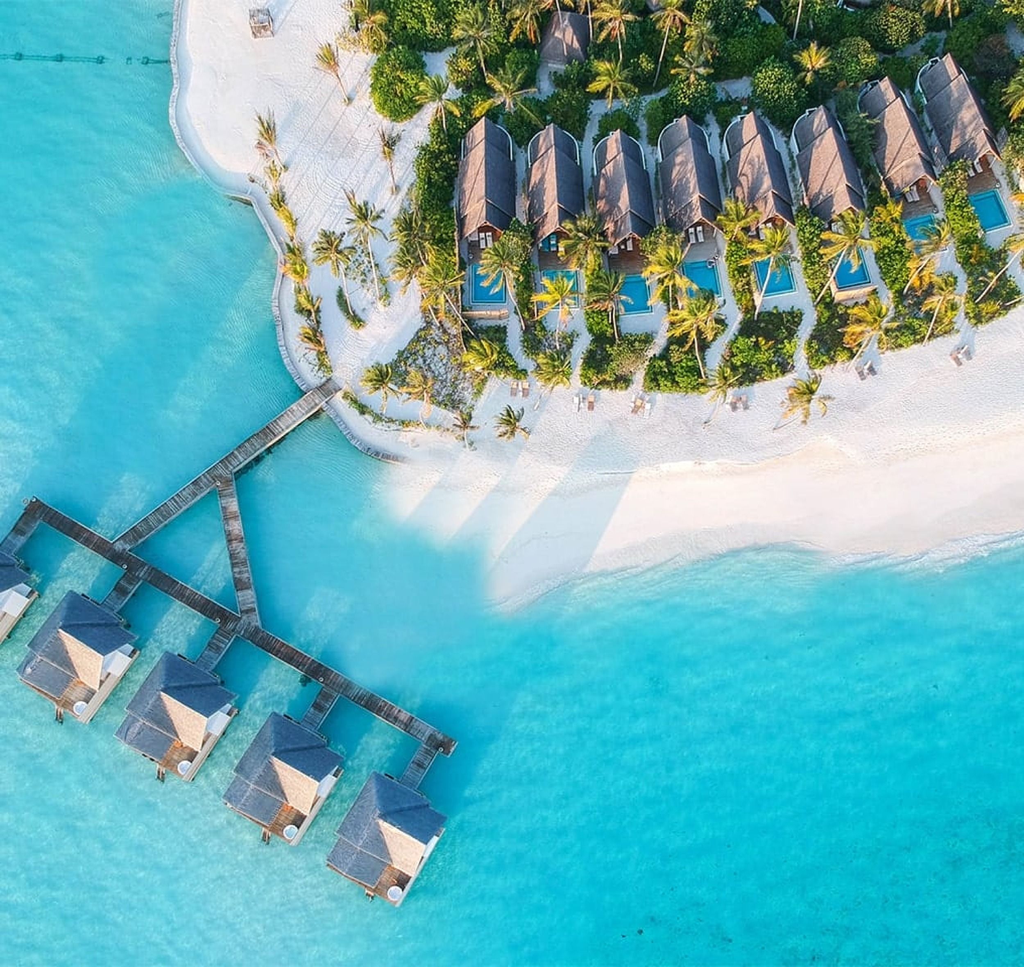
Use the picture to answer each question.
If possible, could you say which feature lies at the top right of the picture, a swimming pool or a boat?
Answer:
swimming pool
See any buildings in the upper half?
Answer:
Yes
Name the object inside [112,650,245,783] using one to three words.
house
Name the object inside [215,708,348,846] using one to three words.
house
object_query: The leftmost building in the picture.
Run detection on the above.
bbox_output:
[0,549,57,656]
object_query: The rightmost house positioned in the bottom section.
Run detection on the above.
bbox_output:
[324,770,455,915]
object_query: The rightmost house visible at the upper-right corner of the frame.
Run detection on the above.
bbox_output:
[913,54,1020,226]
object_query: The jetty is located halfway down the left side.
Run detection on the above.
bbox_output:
[117,378,342,550]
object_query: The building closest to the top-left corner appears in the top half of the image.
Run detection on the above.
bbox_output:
[245,5,271,37]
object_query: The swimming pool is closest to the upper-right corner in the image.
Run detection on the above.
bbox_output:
[968,189,1011,234]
